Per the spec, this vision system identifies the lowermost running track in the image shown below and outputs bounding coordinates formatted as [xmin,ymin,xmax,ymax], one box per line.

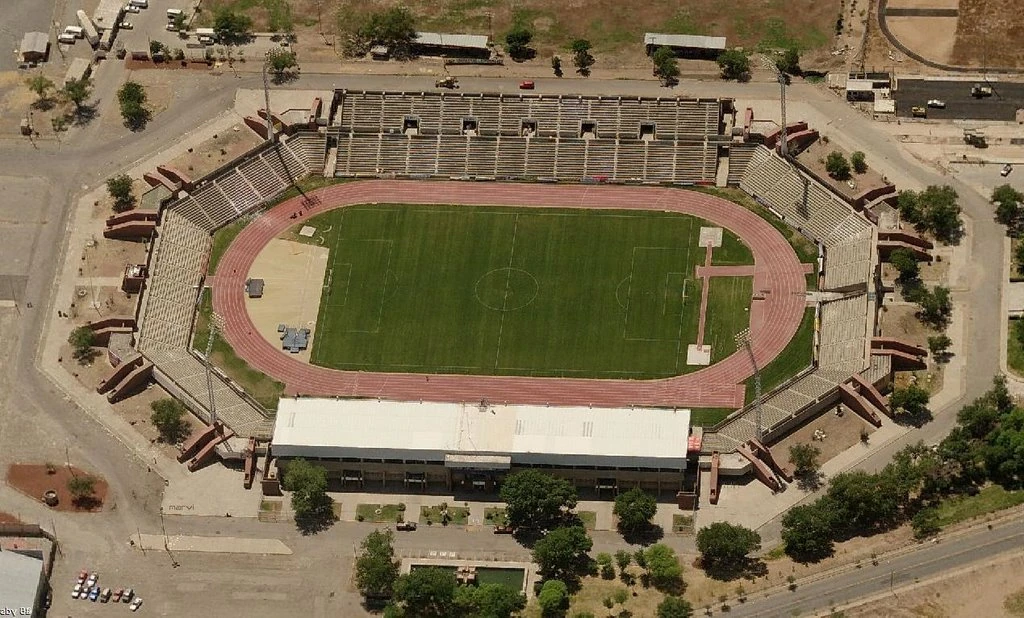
[204,180,815,407]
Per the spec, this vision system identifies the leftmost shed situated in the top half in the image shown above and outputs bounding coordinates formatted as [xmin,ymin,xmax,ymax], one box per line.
[21,32,49,62]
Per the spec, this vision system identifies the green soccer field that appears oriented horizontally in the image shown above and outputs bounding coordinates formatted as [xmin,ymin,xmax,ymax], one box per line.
[309,205,698,377]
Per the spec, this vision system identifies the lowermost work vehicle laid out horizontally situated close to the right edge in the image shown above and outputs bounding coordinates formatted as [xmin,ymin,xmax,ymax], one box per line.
[963,132,988,144]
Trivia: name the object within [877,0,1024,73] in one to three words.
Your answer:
running track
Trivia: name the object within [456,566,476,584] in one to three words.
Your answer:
fountain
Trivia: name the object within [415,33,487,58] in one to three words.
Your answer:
shed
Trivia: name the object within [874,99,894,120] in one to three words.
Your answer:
building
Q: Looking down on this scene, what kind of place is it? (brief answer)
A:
sports ground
